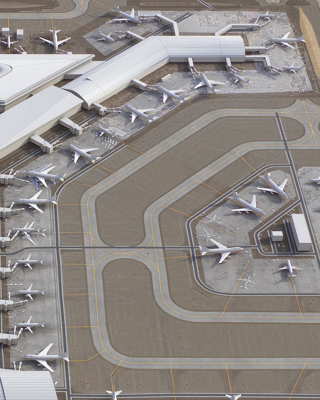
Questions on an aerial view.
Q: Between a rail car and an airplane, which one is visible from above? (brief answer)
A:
airplane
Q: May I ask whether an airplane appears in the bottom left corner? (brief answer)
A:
Yes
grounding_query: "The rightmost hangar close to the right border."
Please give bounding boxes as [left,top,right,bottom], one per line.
[291,213,312,251]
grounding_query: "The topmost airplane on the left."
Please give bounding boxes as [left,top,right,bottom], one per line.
[110,2,141,24]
